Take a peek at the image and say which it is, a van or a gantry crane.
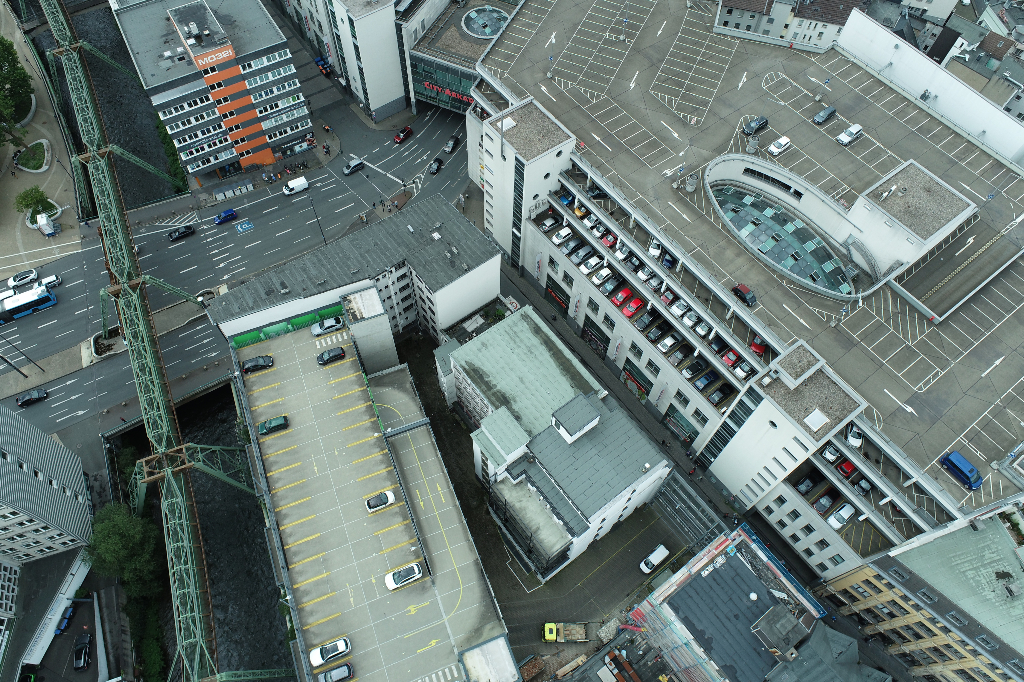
van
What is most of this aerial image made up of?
buildings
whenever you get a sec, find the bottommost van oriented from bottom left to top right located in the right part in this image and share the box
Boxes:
[638,542,674,575]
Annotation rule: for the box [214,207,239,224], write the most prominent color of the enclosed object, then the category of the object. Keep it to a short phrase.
blue car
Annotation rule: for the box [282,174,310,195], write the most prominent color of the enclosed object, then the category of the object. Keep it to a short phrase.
white vehicle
